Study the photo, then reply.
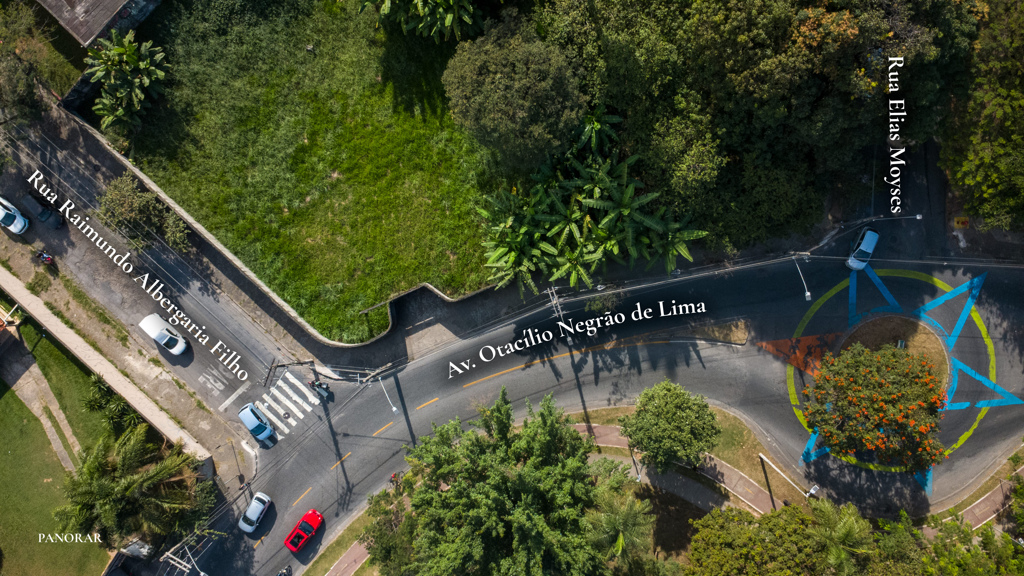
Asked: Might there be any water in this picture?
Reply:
No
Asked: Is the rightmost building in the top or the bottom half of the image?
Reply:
top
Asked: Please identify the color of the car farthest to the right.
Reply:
blue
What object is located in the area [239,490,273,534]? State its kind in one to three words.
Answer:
car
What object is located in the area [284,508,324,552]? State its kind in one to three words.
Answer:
car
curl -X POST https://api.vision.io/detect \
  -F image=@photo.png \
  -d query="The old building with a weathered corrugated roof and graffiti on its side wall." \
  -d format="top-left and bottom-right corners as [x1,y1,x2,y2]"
[35,0,166,61]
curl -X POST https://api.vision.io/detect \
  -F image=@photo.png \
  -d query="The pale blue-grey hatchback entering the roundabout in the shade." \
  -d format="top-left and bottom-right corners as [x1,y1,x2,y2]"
[847,227,879,271]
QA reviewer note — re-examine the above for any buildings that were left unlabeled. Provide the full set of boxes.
[0,302,23,346]
[35,0,166,61]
